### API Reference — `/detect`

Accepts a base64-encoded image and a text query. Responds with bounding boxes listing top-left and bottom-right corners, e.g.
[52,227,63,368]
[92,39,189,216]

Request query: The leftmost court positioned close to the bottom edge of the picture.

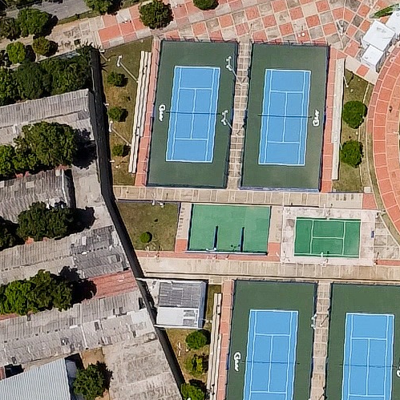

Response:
[227,282,318,400]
